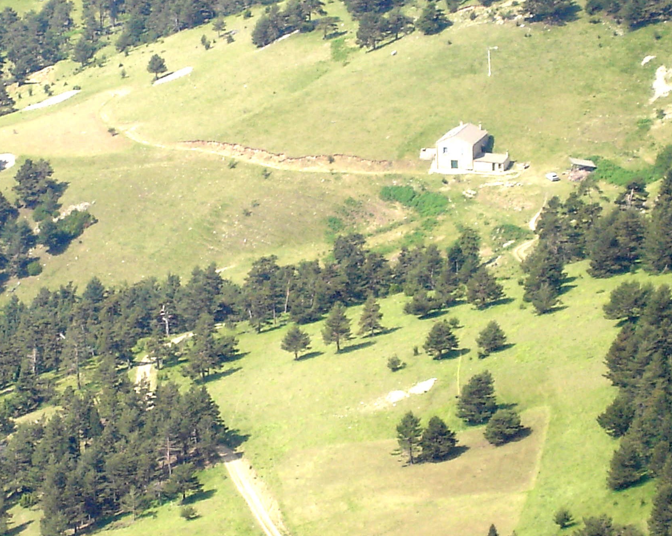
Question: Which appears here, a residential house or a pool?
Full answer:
Looking from above, you can make out a residential house.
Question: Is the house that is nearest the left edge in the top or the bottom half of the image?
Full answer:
Seen from above, the house that is nearest the left edge lies in the top half of the view.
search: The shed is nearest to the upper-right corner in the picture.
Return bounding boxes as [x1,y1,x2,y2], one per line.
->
[572,156,604,176]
